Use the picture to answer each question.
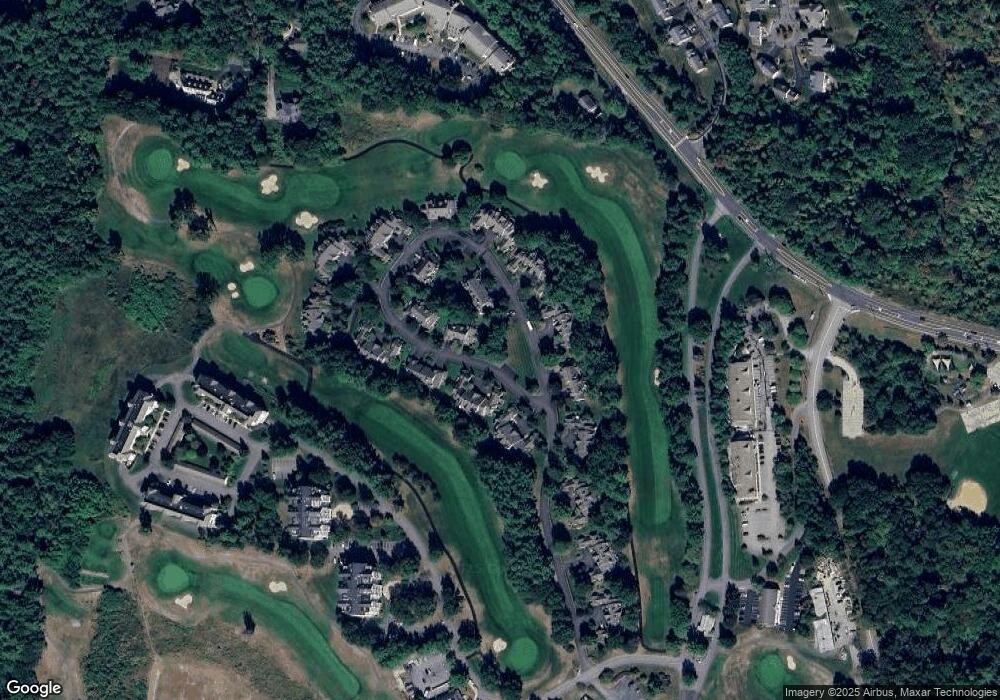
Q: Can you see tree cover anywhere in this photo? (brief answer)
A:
Yes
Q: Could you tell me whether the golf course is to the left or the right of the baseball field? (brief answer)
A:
on the left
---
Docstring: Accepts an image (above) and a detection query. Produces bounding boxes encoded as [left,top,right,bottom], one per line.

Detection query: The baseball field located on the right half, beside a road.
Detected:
[817,396,1000,527]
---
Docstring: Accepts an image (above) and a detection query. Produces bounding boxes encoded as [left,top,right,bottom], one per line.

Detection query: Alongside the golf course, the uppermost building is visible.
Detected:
[365,0,519,79]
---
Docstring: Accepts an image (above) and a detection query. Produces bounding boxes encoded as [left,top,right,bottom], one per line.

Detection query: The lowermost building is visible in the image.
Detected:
[394,651,465,700]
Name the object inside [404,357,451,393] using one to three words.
house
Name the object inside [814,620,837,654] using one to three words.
shed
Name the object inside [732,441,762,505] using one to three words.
building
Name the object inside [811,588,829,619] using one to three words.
shed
